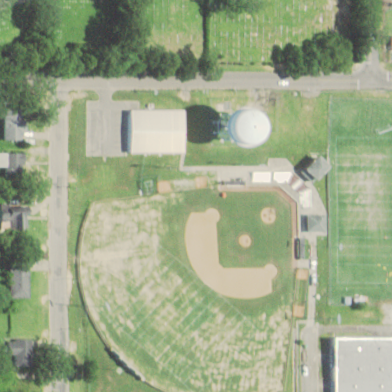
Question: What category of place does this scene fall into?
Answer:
sports ground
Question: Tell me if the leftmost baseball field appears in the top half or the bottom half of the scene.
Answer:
bottom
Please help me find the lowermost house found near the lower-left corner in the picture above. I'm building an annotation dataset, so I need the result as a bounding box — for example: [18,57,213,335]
[9,340,32,366]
